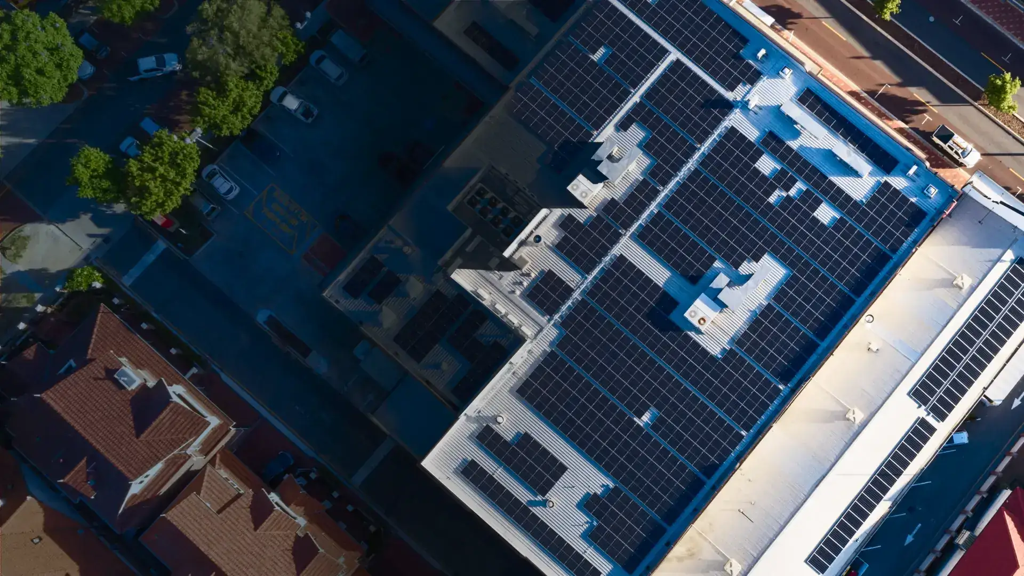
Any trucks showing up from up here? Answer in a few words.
Yes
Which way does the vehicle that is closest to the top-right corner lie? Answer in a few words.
on a diagonal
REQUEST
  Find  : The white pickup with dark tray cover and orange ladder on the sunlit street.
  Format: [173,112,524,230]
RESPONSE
[931,122,983,166]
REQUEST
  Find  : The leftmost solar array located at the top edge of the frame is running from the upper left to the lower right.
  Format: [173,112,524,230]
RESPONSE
[466,18,522,68]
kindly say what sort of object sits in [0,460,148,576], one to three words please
house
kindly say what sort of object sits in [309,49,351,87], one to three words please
car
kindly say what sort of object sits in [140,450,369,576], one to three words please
house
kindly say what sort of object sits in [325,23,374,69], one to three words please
vehicle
